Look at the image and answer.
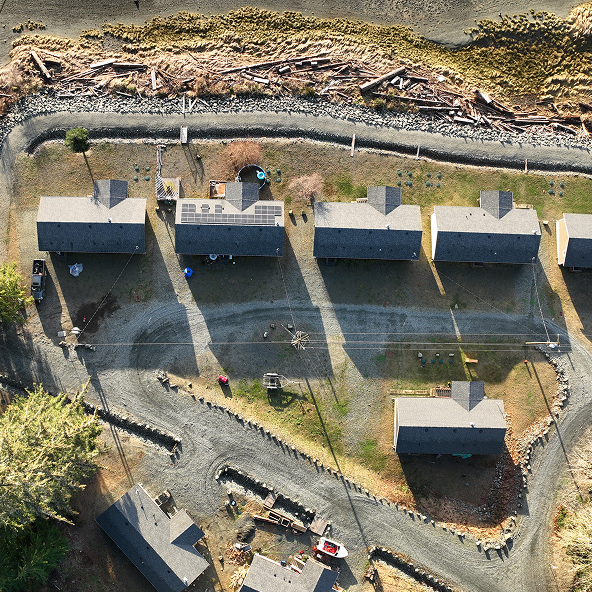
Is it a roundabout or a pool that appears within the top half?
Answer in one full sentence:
Visible within the top half is a pool.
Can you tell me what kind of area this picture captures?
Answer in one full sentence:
The area seen from above is a residential area.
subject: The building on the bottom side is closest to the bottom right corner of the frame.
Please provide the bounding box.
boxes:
[390,380,507,459]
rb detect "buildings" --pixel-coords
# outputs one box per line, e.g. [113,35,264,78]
[96,483,210,592]
[312,186,423,269]
[174,178,284,266]
[239,551,346,592]
[390,380,507,459]
[430,190,542,273]
[556,213,592,279]
[36,179,147,263]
